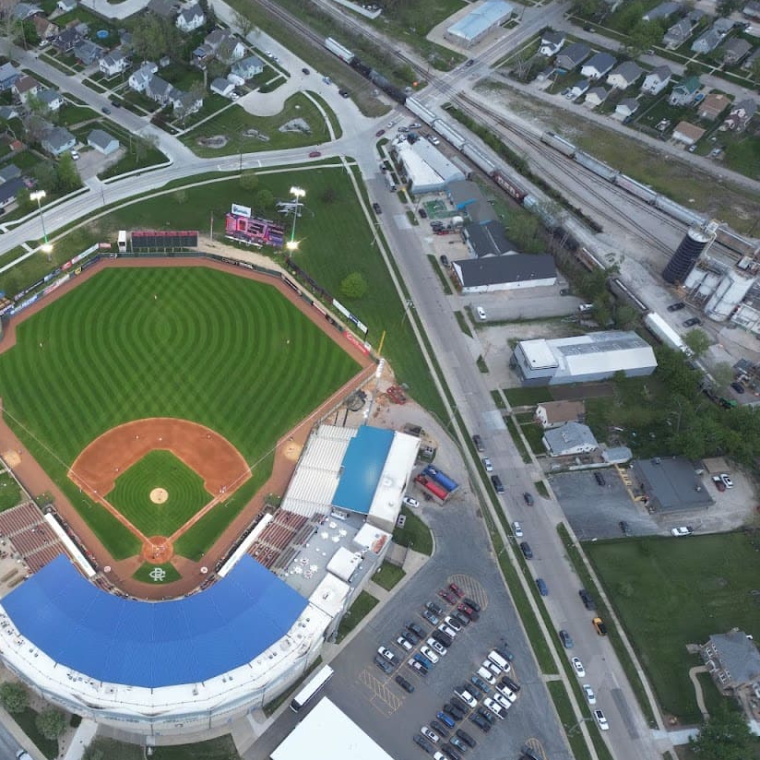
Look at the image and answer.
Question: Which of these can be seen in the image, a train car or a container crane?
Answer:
train car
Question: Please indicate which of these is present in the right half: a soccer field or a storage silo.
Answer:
storage silo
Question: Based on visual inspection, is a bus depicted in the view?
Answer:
Yes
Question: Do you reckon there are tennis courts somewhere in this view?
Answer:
No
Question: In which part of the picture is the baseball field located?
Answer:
left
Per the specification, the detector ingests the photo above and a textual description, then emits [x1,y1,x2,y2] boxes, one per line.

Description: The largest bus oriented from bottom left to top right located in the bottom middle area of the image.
[289,664,333,713]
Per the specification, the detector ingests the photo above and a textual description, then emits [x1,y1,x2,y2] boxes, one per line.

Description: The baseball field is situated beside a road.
[0,254,375,601]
